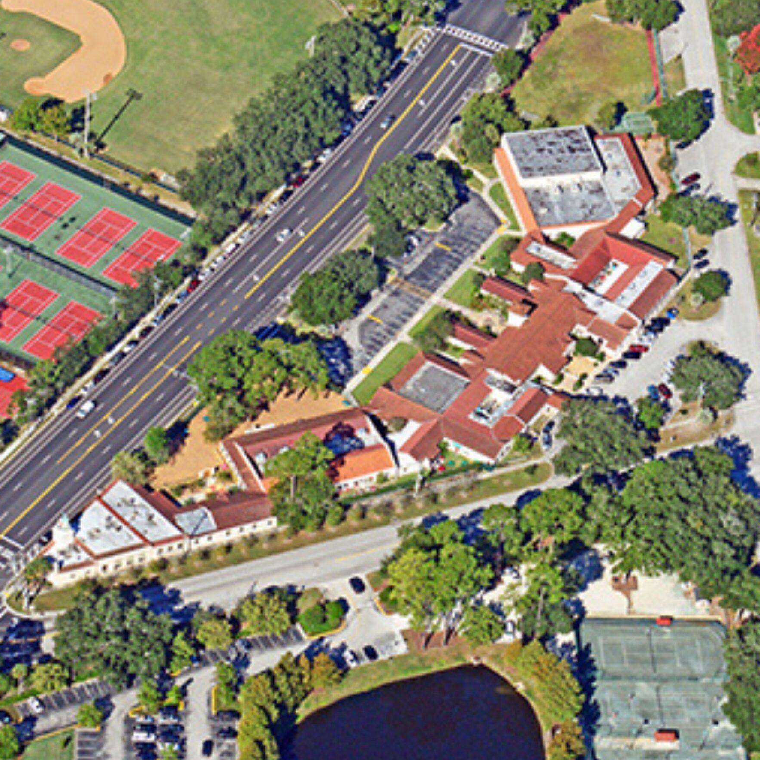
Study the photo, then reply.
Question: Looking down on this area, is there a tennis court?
Yes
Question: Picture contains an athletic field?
Yes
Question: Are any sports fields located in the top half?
Yes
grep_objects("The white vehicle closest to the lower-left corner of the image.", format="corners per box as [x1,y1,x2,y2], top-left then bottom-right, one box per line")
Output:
[29,695,43,712]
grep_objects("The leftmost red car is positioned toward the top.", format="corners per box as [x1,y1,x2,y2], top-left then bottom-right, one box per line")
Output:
[187,280,200,293]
